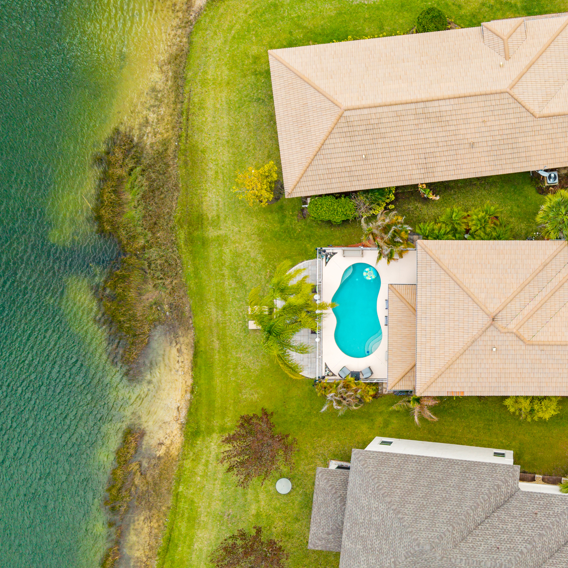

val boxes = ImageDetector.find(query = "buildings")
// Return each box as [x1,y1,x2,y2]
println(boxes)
[267,15,568,199]
[386,238,568,398]
[307,438,568,568]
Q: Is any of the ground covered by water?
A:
Yes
